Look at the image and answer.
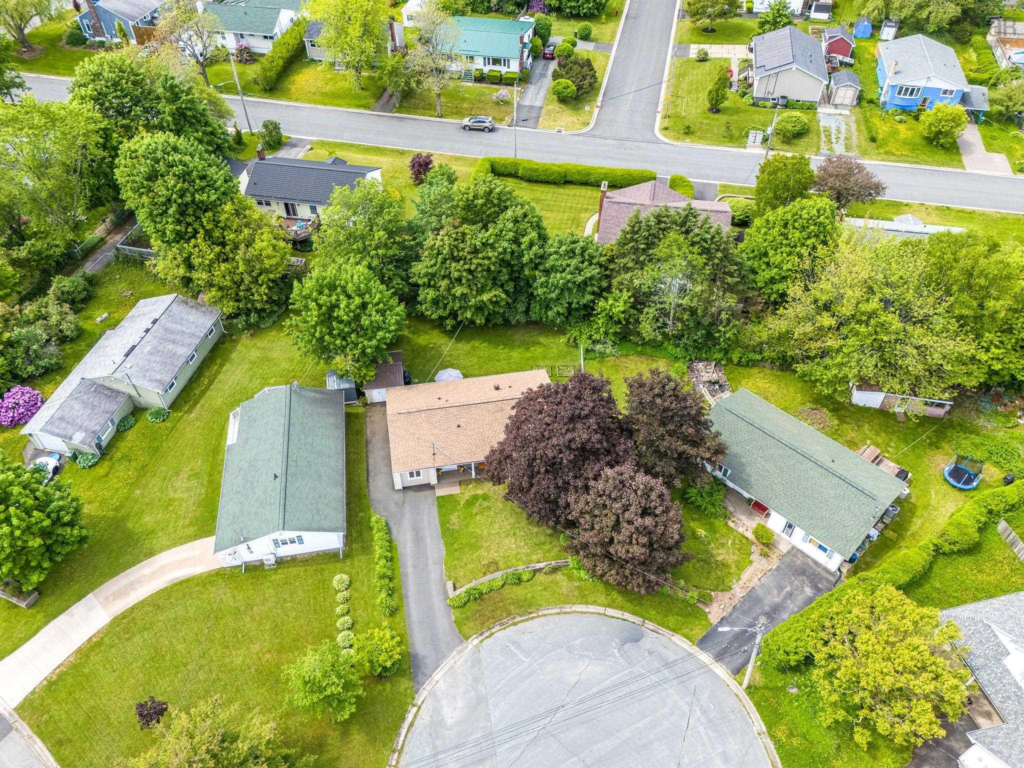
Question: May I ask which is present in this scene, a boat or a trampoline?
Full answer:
The image shows a trampoline.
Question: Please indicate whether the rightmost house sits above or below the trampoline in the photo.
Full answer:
Looking at the scene, the rightmost house is located below the trampoline.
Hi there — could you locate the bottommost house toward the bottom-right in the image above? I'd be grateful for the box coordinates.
[938,594,1024,768]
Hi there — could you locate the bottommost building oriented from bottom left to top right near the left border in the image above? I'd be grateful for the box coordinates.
[18,295,231,459]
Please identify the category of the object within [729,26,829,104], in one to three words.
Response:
house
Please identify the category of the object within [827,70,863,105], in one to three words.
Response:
shed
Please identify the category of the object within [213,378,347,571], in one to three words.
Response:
house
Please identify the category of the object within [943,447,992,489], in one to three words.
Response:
trampoline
